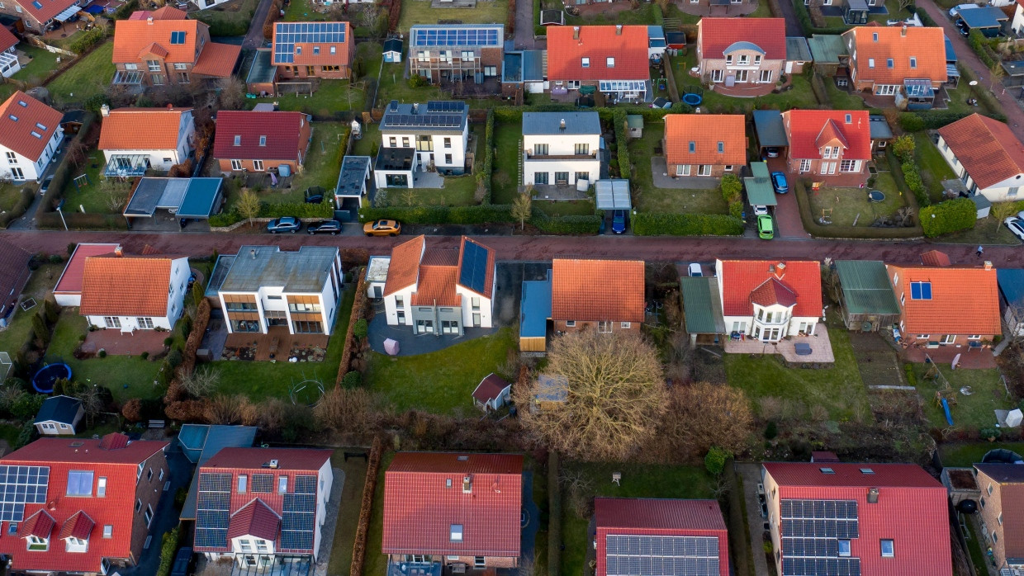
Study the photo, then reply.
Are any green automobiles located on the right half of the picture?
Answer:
Yes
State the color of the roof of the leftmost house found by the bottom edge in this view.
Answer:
red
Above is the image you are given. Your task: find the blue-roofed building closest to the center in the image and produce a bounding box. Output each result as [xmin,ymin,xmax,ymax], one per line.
[520,281,546,354]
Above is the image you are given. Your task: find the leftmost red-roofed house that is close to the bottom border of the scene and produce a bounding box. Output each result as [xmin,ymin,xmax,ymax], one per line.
[0,433,173,576]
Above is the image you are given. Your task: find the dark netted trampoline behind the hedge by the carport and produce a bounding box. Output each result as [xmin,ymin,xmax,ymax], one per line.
[302,180,325,205]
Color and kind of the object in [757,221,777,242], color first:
green car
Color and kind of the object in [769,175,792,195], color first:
blue car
